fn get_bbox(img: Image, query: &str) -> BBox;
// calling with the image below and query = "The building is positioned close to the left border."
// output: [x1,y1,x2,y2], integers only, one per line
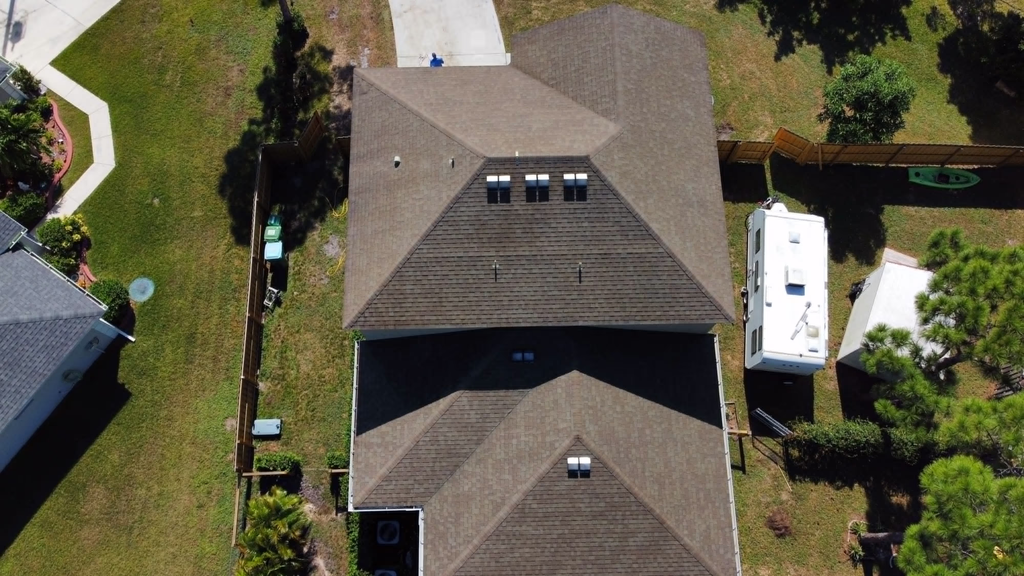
[0,206,135,471]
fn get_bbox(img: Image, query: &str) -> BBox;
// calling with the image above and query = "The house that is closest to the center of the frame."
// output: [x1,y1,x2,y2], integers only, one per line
[339,5,744,576]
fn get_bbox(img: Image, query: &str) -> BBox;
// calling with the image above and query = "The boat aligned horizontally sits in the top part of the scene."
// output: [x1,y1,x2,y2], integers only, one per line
[906,167,983,188]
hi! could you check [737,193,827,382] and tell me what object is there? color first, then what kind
white trailer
